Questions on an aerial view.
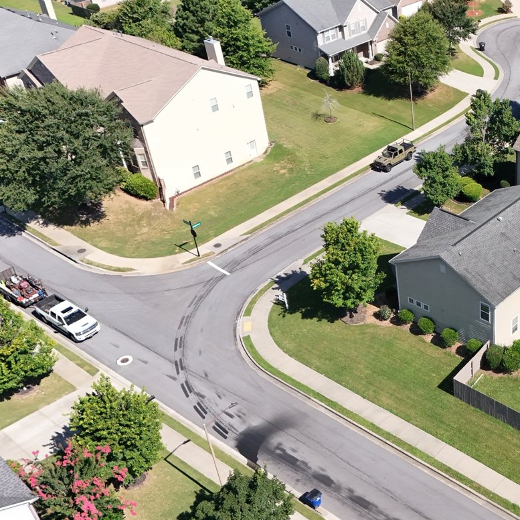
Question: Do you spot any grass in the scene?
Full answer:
Yes, grass shows up in the scene.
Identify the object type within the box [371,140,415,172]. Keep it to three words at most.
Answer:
truck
